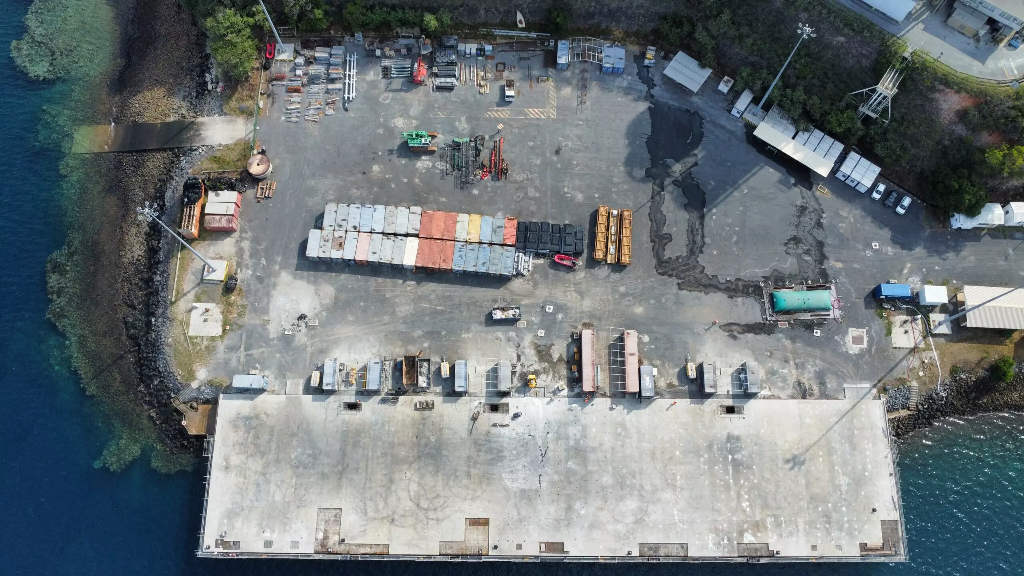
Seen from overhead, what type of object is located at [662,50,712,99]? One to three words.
shed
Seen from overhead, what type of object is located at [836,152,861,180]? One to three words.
building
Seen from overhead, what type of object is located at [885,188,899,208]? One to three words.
car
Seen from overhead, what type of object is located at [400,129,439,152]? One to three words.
crane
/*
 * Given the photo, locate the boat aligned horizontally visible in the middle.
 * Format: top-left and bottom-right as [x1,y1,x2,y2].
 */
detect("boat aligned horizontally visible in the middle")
[553,254,579,267]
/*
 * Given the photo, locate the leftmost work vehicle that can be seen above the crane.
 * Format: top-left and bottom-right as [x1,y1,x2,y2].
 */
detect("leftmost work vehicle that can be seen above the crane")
[405,31,433,86]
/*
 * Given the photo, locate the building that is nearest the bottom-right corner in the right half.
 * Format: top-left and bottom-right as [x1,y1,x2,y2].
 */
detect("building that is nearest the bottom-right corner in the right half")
[951,287,1024,333]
